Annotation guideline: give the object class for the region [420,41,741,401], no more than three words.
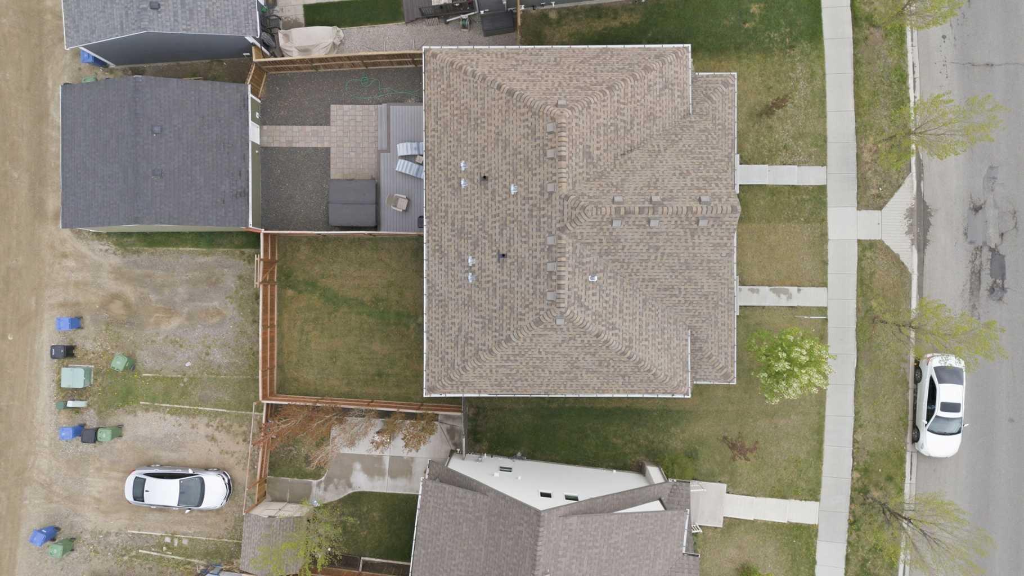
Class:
house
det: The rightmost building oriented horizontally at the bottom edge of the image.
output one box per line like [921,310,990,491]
[407,452,705,576]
